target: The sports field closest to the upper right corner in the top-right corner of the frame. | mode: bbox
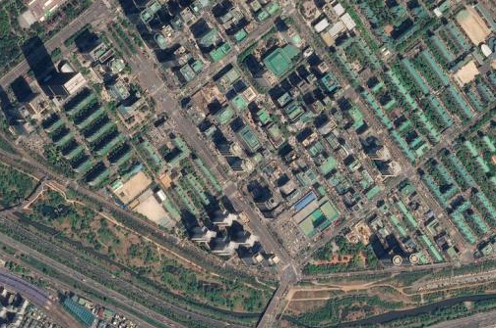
[456,5,493,45]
